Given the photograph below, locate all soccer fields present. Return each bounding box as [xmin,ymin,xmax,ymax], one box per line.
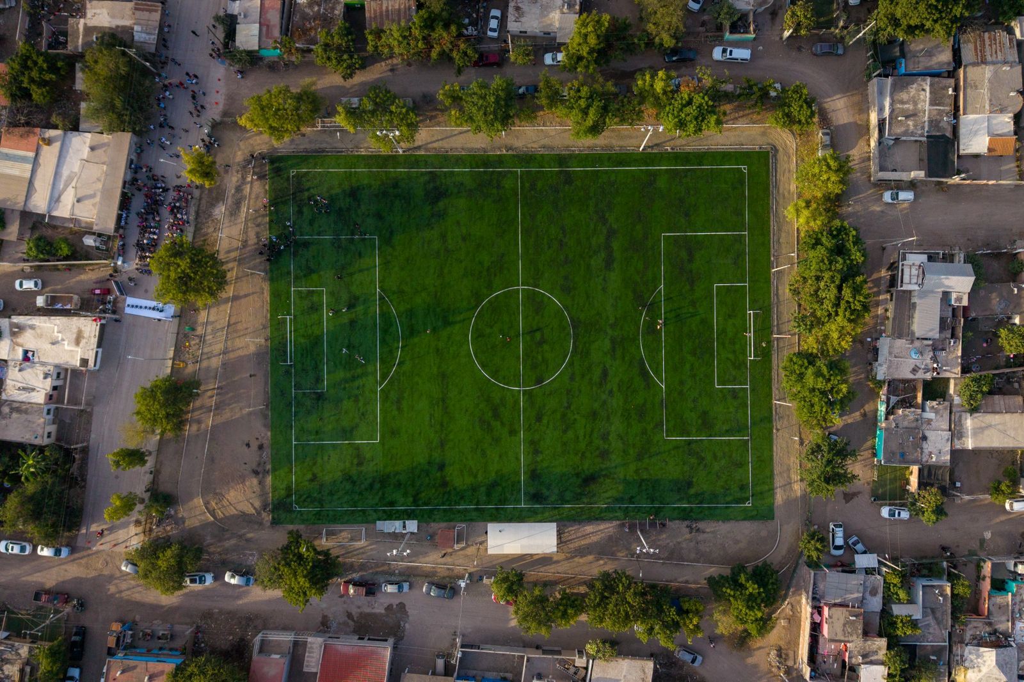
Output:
[267,149,776,526]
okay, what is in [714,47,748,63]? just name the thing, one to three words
car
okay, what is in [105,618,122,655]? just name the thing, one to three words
vehicle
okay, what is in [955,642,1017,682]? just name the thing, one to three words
house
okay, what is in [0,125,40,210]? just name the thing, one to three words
house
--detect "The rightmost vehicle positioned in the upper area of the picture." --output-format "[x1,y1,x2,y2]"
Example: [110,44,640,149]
[881,189,914,203]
